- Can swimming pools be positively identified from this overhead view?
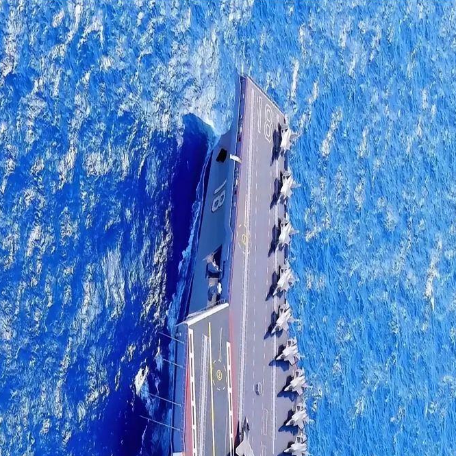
No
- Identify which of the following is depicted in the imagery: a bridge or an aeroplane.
aeroplane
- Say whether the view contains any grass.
No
